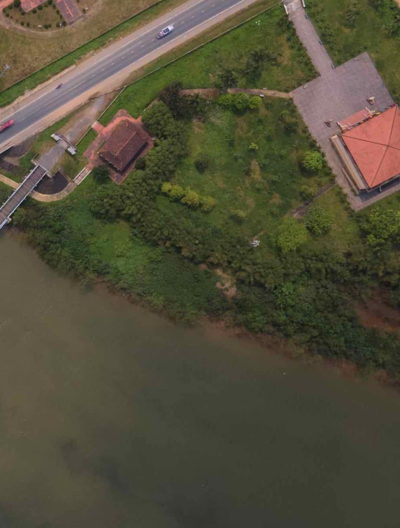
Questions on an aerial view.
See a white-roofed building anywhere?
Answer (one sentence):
No, there isn't any white-roofed building down there.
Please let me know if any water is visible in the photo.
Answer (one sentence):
Yes, there is water in the image.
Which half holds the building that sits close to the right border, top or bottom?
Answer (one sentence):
It is in the top half that the building that sits close to the right border appears.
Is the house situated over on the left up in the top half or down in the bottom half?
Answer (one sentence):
It is in the top half that the house situated over on the left appears.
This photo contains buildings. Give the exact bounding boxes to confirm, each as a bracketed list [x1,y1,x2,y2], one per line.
[326,105,400,189]
[97,118,150,171]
